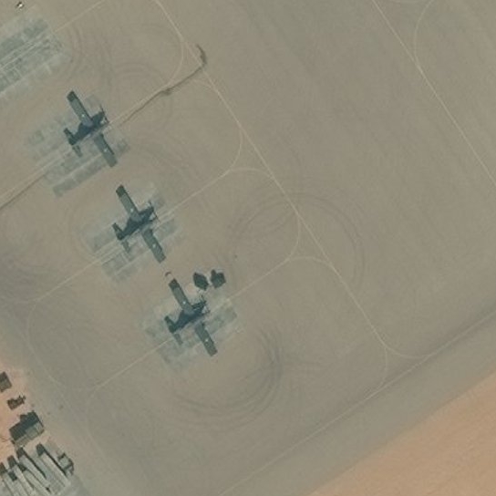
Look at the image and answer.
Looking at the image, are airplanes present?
Yes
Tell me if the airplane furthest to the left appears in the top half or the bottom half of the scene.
top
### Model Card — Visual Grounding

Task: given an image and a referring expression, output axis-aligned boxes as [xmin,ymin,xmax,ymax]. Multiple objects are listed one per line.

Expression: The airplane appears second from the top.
[113,195,166,260]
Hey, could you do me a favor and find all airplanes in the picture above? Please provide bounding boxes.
[113,195,166,260]
[166,289,218,354]
[65,99,117,165]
